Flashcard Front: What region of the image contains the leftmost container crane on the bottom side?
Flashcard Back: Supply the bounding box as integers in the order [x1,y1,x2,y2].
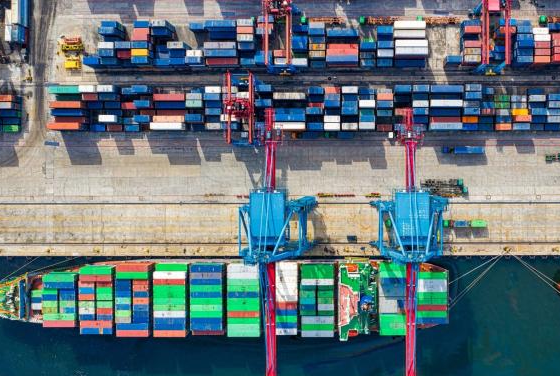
[237,110,318,376]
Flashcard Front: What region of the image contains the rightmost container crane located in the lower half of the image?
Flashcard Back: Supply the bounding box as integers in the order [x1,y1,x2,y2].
[367,109,451,376]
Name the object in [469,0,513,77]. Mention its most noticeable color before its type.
red container crane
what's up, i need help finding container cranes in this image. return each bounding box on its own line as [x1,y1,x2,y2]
[237,110,318,376]
[469,0,513,77]
[261,0,300,78]
[367,109,451,376]
[224,71,265,150]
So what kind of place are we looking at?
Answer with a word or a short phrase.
port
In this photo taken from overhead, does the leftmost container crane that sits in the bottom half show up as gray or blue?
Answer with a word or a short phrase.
blue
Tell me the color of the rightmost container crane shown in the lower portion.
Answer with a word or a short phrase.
blue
